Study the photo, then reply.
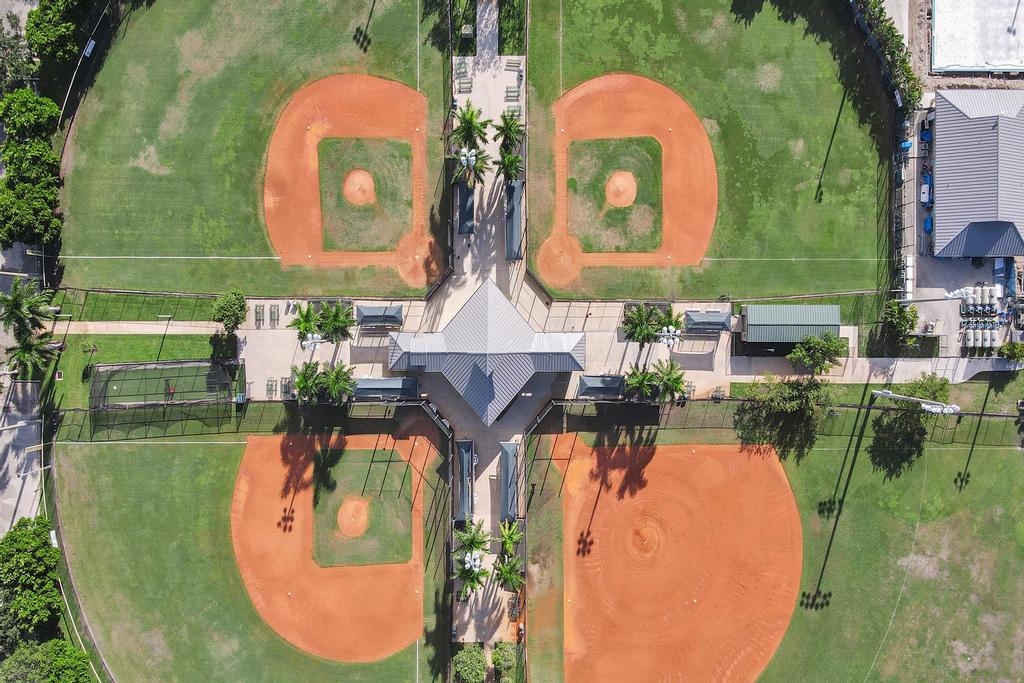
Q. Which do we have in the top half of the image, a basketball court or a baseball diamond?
baseball diamond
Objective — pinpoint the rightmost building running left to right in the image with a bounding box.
[742,304,843,343]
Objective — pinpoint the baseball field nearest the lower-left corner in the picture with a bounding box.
[54,404,449,683]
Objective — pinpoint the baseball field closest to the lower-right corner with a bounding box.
[527,402,1024,683]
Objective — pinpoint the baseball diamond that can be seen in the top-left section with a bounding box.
[59,0,448,297]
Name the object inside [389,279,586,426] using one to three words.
building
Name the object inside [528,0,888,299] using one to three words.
baseball field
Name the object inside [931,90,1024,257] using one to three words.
building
